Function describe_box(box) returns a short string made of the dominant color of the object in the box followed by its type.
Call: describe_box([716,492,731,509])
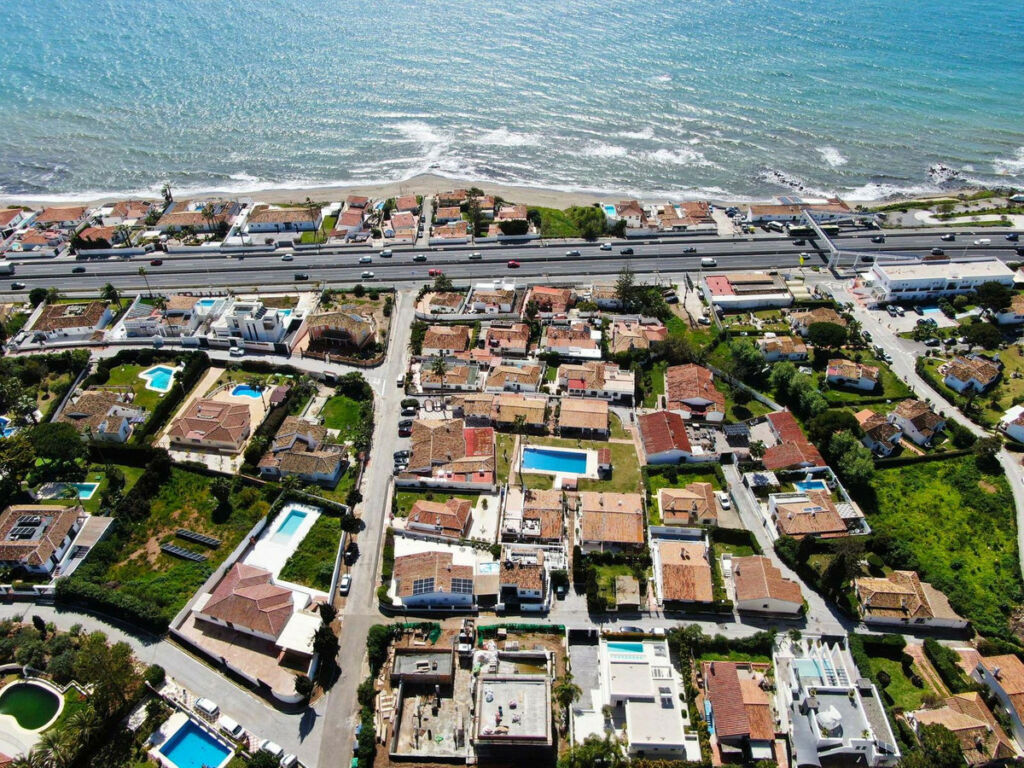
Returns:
white car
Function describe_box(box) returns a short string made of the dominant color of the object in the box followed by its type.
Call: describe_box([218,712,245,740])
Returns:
white vehicle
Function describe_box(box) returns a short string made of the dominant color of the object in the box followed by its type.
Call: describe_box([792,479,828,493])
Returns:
blue swimming pool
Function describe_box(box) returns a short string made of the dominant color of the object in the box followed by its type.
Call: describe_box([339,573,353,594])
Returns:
white car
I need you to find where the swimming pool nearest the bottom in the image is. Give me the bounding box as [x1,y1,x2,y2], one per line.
[154,717,235,768]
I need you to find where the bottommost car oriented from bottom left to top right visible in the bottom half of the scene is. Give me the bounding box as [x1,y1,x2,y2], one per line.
[276,747,300,768]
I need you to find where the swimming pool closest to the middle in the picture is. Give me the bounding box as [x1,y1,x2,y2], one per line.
[519,446,590,477]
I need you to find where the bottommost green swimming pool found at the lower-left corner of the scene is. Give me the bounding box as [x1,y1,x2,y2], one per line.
[0,679,66,733]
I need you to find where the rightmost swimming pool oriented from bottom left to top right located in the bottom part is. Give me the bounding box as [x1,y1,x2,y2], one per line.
[270,509,309,546]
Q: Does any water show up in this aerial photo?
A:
Yes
